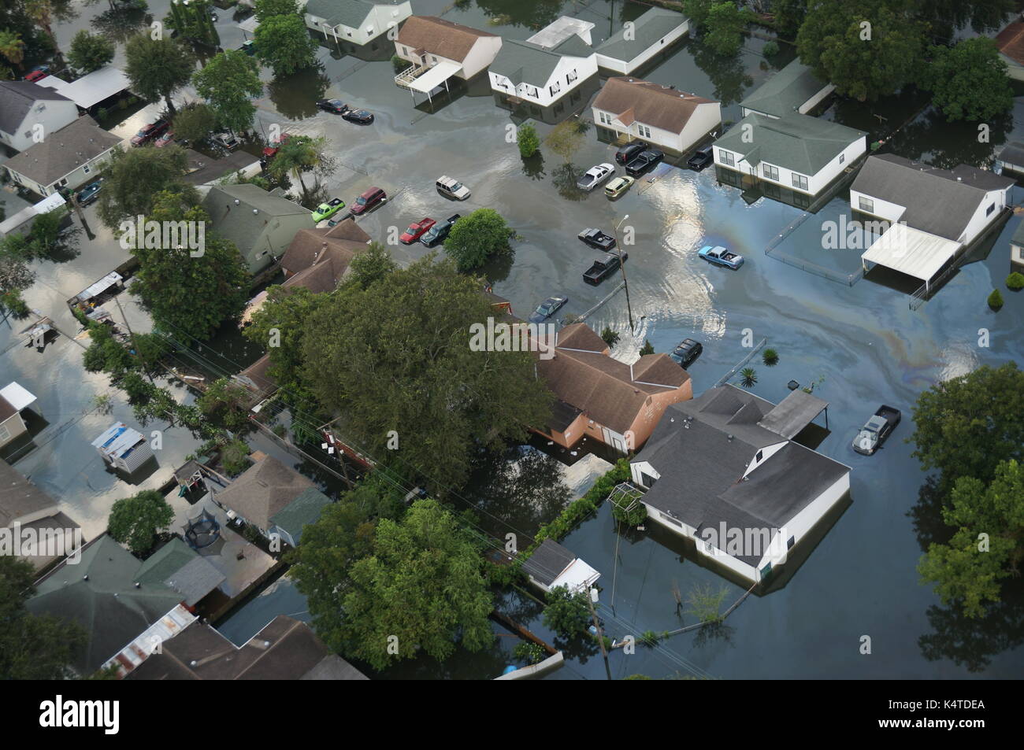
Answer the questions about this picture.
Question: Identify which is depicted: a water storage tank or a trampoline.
trampoline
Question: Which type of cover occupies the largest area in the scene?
water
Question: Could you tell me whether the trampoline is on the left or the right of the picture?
left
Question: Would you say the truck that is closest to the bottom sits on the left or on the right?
right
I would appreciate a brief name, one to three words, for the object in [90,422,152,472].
shed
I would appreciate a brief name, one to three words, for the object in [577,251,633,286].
truck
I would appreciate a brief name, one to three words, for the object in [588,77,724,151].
house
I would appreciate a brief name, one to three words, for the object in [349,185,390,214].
car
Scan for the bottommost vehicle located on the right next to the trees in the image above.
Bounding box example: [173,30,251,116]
[846,403,910,459]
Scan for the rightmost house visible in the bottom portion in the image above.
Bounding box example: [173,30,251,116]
[622,374,855,580]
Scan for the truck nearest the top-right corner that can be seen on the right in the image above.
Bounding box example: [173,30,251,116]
[678,143,716,174]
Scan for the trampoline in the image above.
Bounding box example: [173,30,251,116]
[178,509,223,557]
